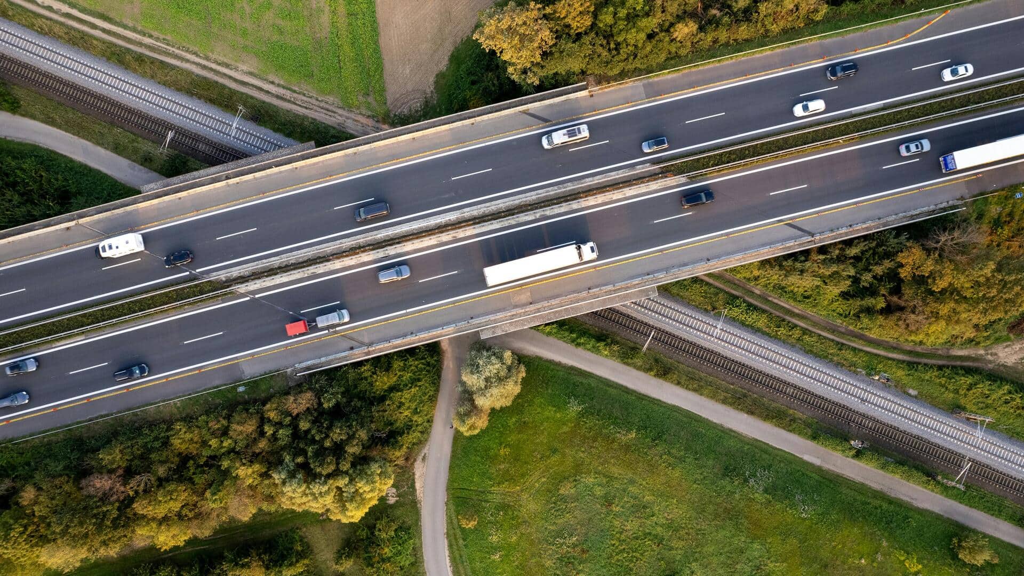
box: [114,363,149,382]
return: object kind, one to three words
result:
car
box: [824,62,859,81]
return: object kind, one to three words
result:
car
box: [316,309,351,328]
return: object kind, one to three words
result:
vehicle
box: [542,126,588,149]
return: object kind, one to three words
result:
vehicle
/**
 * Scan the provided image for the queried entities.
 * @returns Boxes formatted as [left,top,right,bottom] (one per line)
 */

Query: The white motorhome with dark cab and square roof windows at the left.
[96,232,149,260]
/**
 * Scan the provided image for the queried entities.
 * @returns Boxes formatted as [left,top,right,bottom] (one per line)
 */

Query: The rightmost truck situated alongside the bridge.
[940,136,1024,173]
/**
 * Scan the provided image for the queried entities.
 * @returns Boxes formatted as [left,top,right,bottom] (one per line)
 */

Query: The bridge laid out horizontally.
[0,81,968,376]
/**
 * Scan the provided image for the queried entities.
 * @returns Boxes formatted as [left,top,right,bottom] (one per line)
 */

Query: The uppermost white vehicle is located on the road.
[938,64,973,83]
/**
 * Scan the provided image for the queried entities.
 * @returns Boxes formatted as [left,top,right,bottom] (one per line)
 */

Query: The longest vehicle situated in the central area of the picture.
[483,240,598,286]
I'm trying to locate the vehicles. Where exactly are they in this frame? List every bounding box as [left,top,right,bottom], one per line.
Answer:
[681,190,714,208]
[897,138,929,156]
[940,136,1024,173]
[542,126,588,149]
[641,136,669,153]
[164,250,195,267]
[791,100,824,118]
[355,202,390,221]
[5,357,40,376]
[114,363,149,382]
[938,64,973,83]
[824,62,859,81]
[483,240,598,286]
[378,264,411,283]
[0,390,31,409]
[96,232,149,260]
[316,309,351,328]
